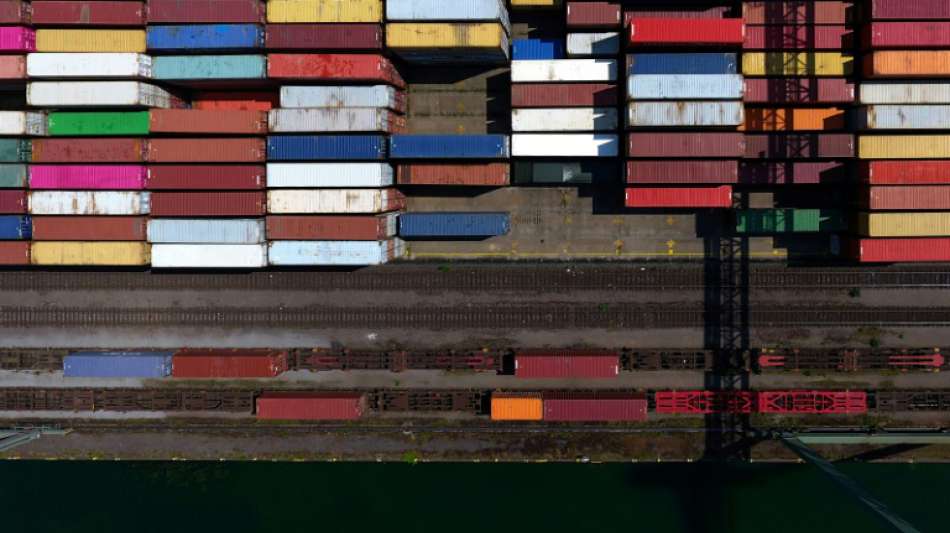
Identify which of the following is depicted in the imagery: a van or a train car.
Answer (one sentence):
Visible in the photo is a train car.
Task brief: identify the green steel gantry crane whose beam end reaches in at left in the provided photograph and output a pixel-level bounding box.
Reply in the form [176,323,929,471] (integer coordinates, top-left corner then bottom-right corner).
[0,427,58,454]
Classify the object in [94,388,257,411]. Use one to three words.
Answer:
rail car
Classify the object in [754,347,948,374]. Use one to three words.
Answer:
rail car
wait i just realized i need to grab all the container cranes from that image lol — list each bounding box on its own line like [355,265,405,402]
[758,429,950,533]
[0,427,58,454]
